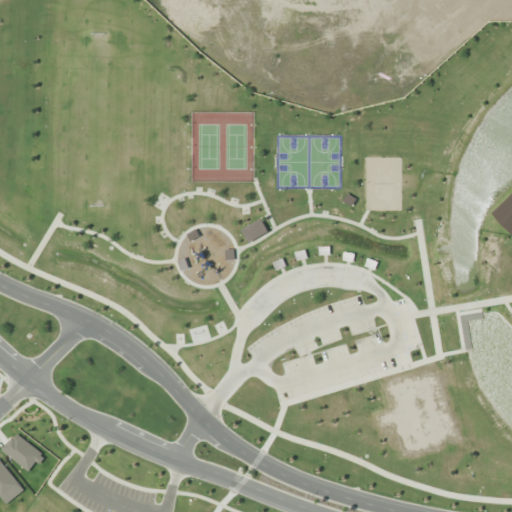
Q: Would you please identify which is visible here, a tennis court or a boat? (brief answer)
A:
tennis court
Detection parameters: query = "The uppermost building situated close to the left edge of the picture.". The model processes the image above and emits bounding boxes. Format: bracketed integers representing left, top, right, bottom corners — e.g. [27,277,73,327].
[2,435,45,471]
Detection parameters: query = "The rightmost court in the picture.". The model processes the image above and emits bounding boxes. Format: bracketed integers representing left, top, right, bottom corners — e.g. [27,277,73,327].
[366,157,402,210]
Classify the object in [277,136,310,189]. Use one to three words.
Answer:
basketball court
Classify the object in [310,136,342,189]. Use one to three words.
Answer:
basketball court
